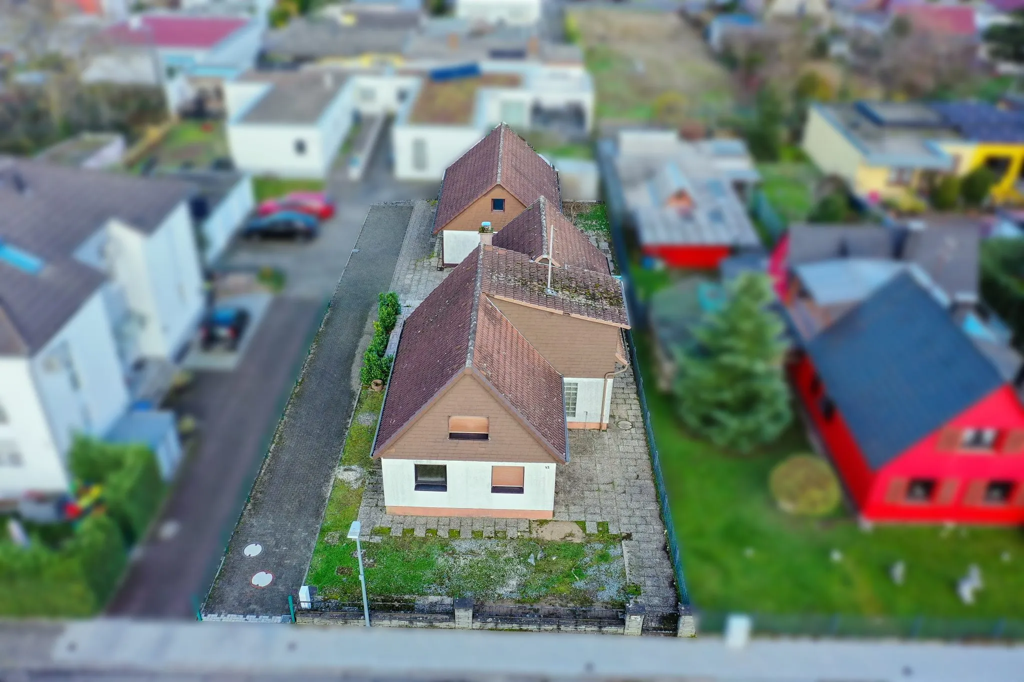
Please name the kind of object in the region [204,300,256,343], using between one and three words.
car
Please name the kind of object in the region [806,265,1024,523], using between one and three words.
house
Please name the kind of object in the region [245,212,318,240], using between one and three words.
car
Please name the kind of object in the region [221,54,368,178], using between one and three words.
house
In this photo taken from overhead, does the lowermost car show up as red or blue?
blue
